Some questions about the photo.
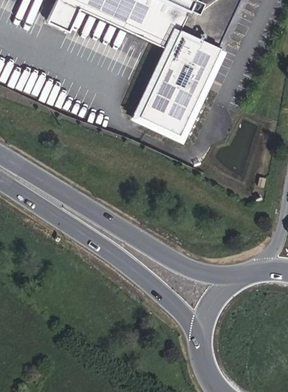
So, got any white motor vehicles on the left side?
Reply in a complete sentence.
Yes, a white motor vehicle can be seen on the left side.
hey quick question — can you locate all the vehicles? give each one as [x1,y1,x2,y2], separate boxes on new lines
[94,111,104,126]
[54,88,68,109]
[270,274,282,280]
[38,78,54,102]
[15,66,32,91]
[46,81,62,106]
[12,0,31,28]
[8,66,22,88]
[102,212,113,222]
[92,20,106,42]
[23,0,43,32]
[0,56,6,71]
[190,337,200,348]
[80,16,96,40]
[70,100,80,116]
[112,28,126,50]
[62,96,72,112]
[31,72,47,97]
[77,103,88,118]
[0,58,15,82]
[86,108,96,123]
[24,69,39,94]
[100,116,110,128]
[24,200,36,209]
[72,11,85,32]
[102,24,116,46]
[150,290,163,300]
